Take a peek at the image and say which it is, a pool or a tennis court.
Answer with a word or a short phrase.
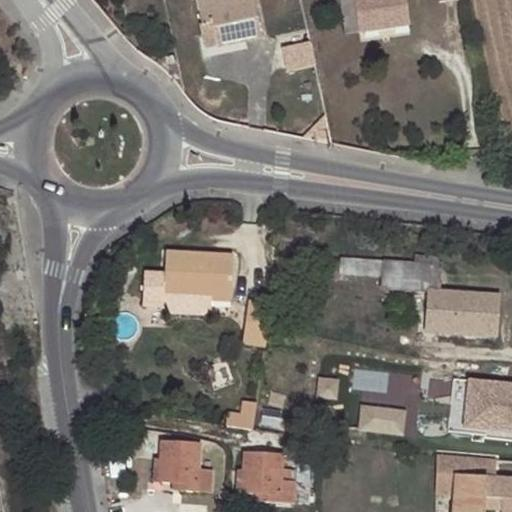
pool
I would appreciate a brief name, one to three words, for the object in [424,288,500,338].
house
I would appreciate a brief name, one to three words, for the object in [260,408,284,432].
shed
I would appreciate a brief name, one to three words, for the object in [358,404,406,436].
shed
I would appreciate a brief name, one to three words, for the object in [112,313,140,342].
swimming pool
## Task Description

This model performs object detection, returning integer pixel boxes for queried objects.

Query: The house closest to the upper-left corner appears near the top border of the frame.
[198,0,264,58]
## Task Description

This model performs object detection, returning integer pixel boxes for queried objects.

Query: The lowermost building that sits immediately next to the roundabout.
[140,249,234,316]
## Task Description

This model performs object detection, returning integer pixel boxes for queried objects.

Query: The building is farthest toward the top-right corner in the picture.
[342,0,414,44]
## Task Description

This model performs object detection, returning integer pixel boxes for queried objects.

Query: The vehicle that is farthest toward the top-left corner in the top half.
[40,180,65,194]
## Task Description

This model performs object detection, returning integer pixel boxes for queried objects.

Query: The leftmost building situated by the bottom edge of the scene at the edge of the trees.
[147,440,214,504]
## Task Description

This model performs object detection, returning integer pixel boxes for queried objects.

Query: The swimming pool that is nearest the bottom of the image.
[352,370,389,393]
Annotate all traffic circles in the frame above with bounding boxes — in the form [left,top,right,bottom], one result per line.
[0,24,238,258]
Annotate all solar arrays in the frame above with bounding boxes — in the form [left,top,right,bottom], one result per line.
[219,20,257,44]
